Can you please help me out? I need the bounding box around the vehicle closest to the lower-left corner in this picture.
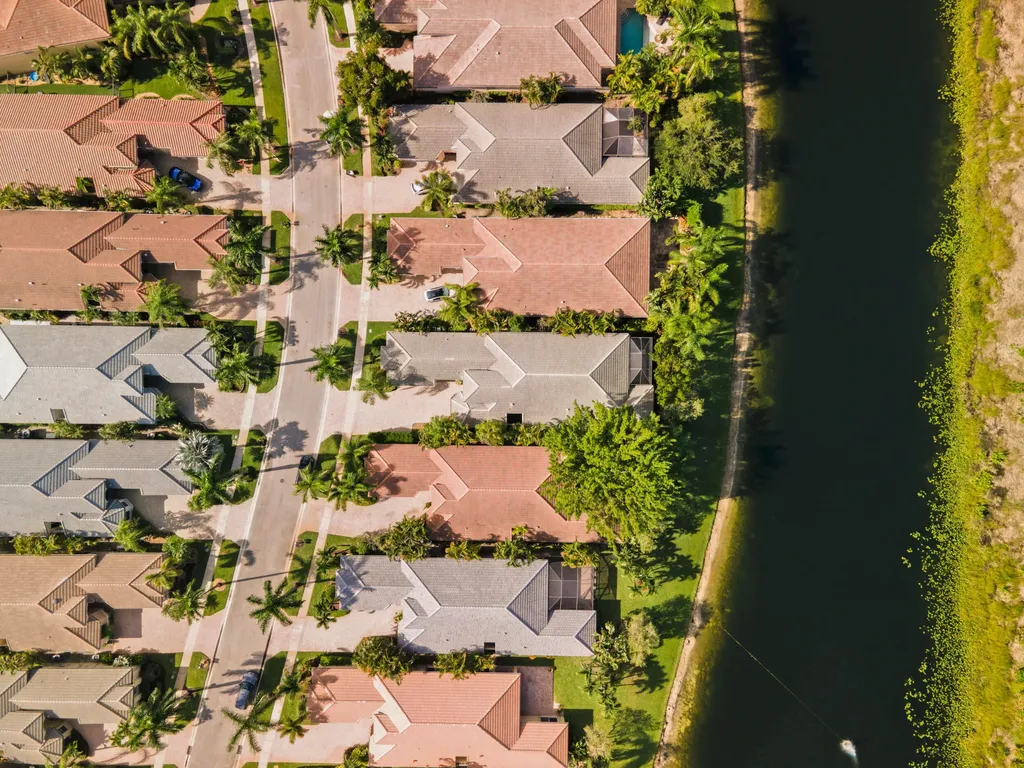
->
[232,672,257,712]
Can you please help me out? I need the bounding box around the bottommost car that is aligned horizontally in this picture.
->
[422,283,455,300]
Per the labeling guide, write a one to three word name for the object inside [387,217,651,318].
house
